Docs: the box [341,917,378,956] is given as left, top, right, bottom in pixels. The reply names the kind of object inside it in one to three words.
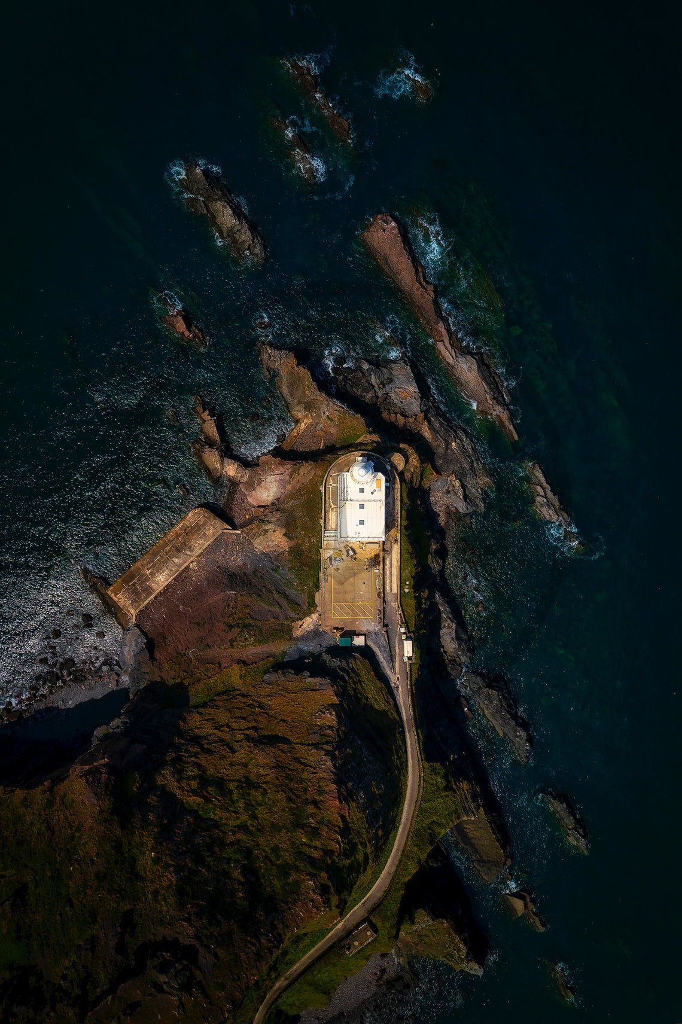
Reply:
building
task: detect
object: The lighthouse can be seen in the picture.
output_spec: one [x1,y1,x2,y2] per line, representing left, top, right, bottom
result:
[338,457,389,541]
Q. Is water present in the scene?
Yes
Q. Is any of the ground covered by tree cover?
No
